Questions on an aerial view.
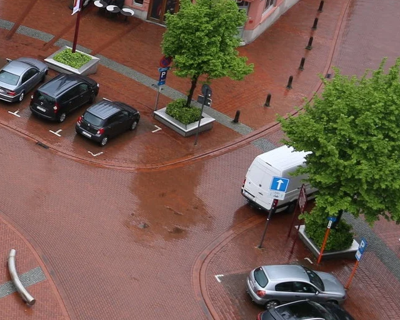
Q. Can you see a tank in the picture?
No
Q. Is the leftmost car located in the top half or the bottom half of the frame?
top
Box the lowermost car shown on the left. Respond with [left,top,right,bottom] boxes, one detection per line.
[81,93,138,138]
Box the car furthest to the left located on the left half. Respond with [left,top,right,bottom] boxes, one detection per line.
[0,48,51,95]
